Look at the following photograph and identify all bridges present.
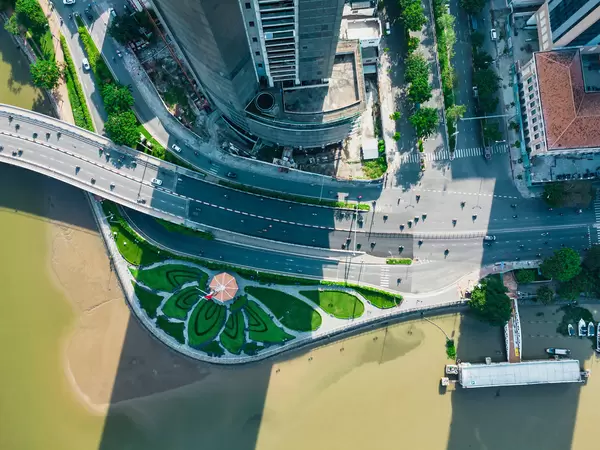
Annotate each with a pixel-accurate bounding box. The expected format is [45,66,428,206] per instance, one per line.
[0,104,340,253]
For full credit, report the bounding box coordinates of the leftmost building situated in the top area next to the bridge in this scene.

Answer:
[156,0,366,158]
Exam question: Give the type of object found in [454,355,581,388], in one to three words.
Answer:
pier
